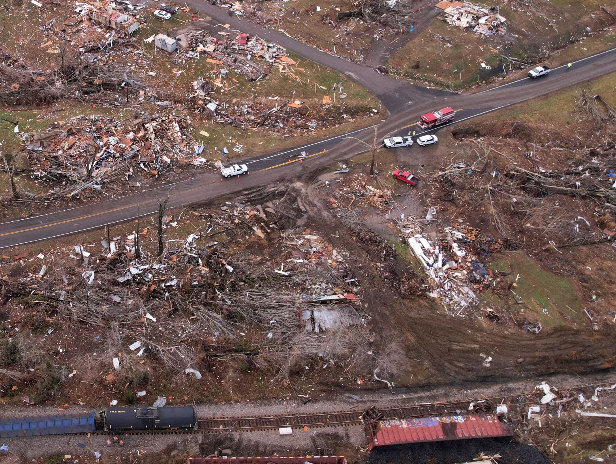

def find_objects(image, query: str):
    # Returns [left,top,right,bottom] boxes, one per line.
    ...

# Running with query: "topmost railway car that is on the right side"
[366,399,523,441]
